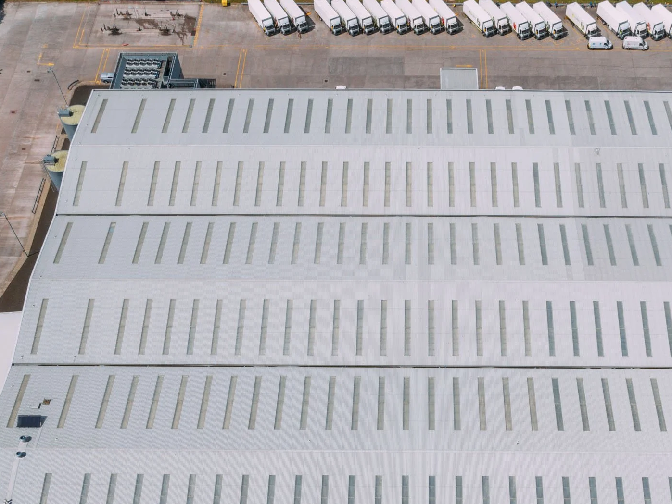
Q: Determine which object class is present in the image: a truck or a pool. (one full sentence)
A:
Visible in the photo is a truck.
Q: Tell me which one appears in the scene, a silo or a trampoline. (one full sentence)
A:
Looking from above, you can make out a silo.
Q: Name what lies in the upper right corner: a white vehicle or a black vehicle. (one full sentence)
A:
Looking in the upper right corner, you will find a white vehicle.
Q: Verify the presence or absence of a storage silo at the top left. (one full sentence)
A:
Yes, looking at the top left, one can make out a storage silo.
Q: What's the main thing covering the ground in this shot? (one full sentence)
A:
What you mostly see from above here is buildings.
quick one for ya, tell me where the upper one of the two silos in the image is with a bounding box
[58,106,85,143]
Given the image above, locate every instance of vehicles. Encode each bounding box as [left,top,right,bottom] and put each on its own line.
[429,0,461,35]
[264,0,293,35]
[616,0,650,38]
[623,36,647,51]
[651,2,672,42]
[587,35,612,49]
[347,0,377,35]
[363,0,394,34]
[412,0,443,34]
[594,0,630,40]
[99,70,115,82]
[564,0,599,40]
[478,0,511,35]
[463,0,496,38]
[532,0,565,40]
[336,81,347,89]
[381,0,411,36]
[516,0,549,40]
[314,0,344,36]
[281,0,310,34]
[633,1,667,41]
[493,81,505,90]
[331,0,362,36]
[500,0,532,41]
[396,0,426,35]
[248,0,277,36]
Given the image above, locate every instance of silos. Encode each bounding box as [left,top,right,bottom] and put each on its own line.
[58,106,85,143]
[42,152,68,194]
